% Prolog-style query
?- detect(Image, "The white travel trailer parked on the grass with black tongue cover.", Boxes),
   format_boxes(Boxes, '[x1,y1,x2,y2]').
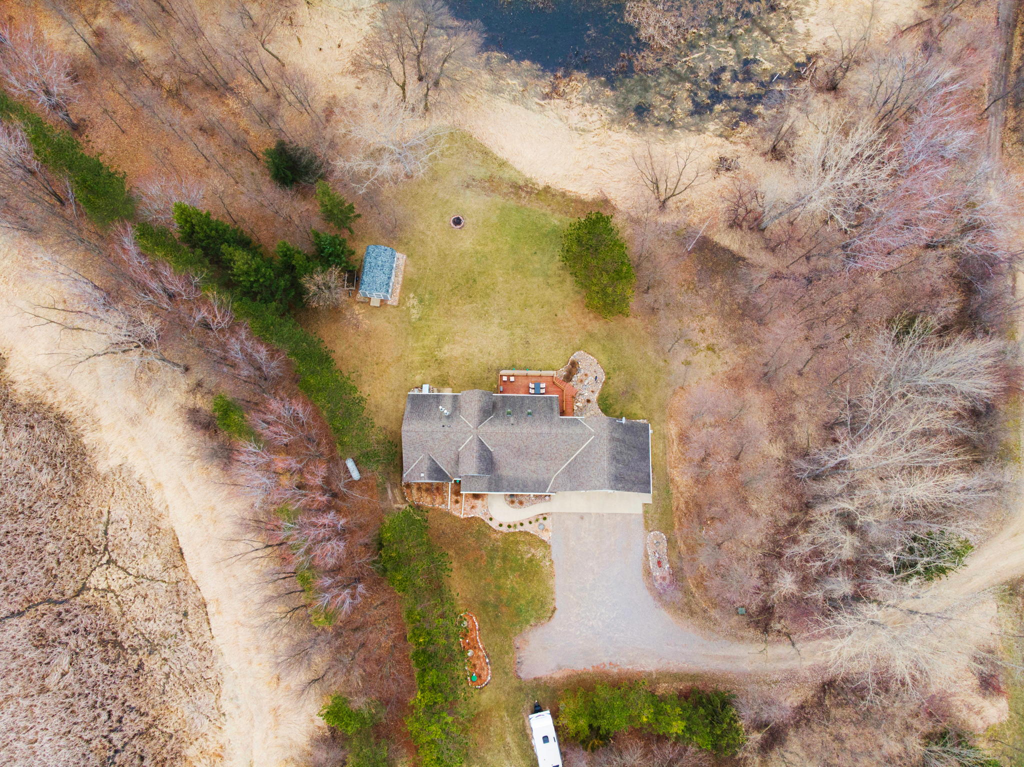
[528,695,563,767]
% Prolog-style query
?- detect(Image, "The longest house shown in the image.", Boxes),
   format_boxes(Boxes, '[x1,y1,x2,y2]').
[402,389,653,496]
